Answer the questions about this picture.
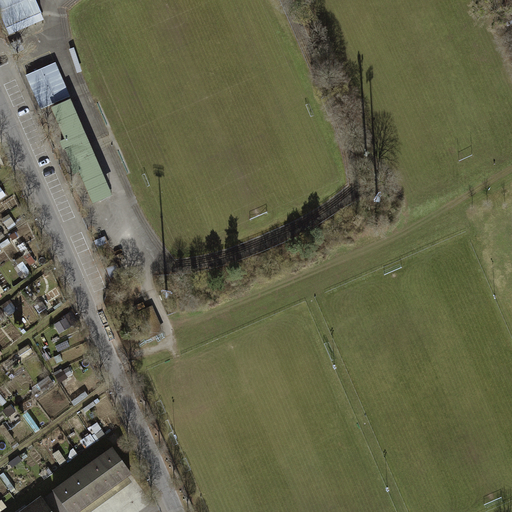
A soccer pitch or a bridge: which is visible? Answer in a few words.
soccer pitch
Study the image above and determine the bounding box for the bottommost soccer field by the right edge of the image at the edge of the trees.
[317,232,512,512]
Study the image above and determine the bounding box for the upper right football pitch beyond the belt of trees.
[326,0,512,208]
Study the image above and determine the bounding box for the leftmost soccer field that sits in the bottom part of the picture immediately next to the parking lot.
[150,302,394,512]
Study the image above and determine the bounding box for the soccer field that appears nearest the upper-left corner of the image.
[68,0,349,260]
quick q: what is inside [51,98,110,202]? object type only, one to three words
building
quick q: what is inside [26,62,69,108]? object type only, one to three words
building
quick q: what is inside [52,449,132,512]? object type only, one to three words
barn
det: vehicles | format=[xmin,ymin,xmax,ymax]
[38,158,50,166]
[18,108,29,116]
[43,168,54,175]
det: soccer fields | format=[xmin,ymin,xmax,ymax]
[326,0,512,208]
[68,0,349,260]
[150,302,394,512]
[317,232,512,512]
